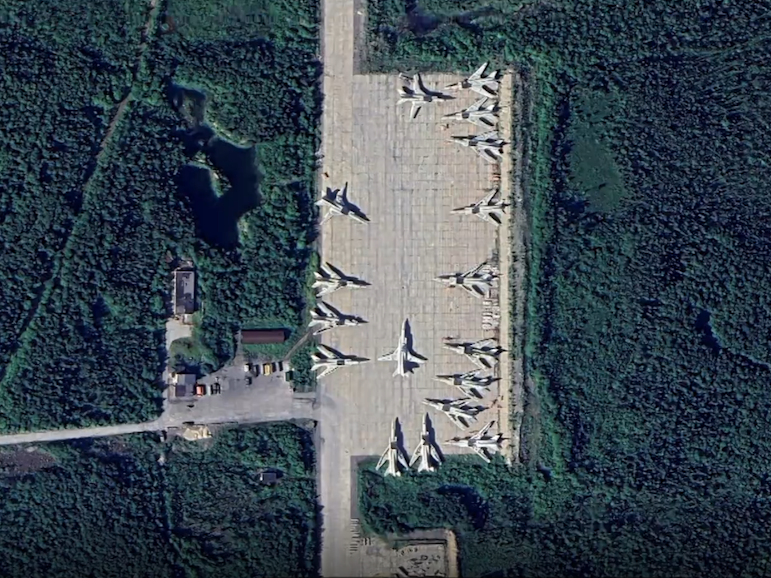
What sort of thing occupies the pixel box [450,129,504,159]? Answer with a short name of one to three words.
airplane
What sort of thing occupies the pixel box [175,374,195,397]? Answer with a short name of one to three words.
building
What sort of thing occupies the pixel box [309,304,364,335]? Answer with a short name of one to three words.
airplane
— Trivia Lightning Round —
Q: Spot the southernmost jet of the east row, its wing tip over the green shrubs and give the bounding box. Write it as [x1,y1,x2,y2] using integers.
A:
[443,422,501,461]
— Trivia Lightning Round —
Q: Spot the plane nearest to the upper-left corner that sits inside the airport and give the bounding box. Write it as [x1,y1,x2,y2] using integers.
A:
[317,186,367,224]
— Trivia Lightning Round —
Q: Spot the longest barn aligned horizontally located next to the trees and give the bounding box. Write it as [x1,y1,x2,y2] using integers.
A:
[242,330,285,343]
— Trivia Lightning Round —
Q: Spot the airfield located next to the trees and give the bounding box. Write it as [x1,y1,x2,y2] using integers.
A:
[316,0,513,578]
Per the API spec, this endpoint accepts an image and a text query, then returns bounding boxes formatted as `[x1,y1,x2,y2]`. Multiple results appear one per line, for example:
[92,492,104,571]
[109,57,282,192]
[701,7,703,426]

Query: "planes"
[398,76,450,119]
[317,186,367,224]
[309,304,364,335]
[312,266,367,297]
[450,190,504,223]
[312,346,367,378]
[422,397,480,429]
[380,320,426,376]
[376,418,407,476]
[434,260,490,296]
[433,367,490,399]
[450,129,504,159]
[410,415,440,472]
[443,422,501,461]
[442,96,499,128]
[445,68,500,99]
